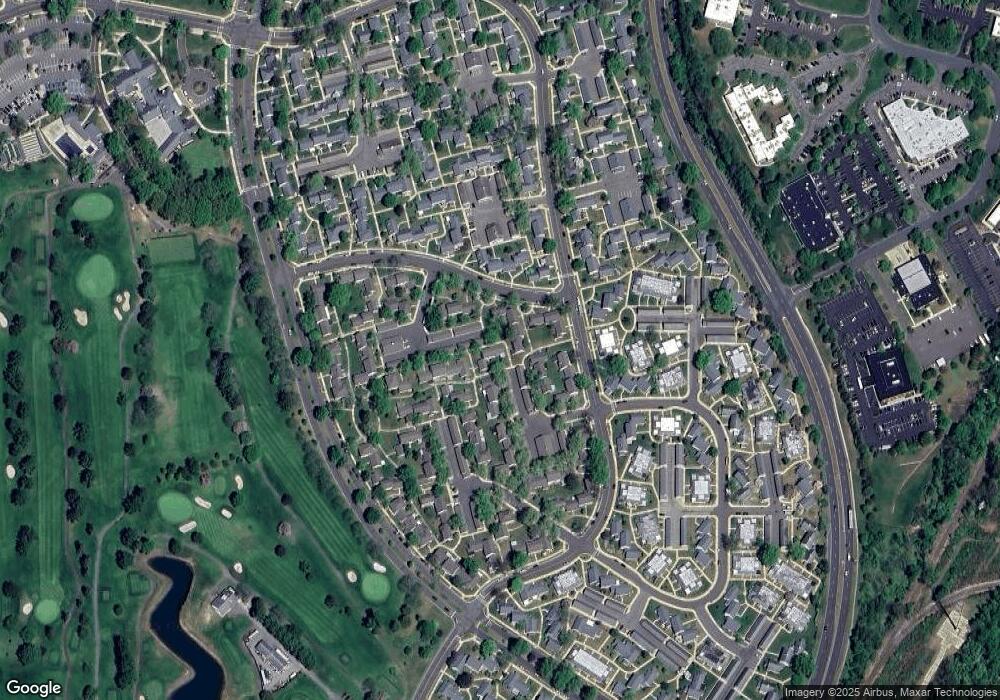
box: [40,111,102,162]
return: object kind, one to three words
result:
building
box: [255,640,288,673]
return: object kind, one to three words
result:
barn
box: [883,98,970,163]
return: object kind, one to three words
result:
building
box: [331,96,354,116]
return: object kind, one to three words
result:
house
